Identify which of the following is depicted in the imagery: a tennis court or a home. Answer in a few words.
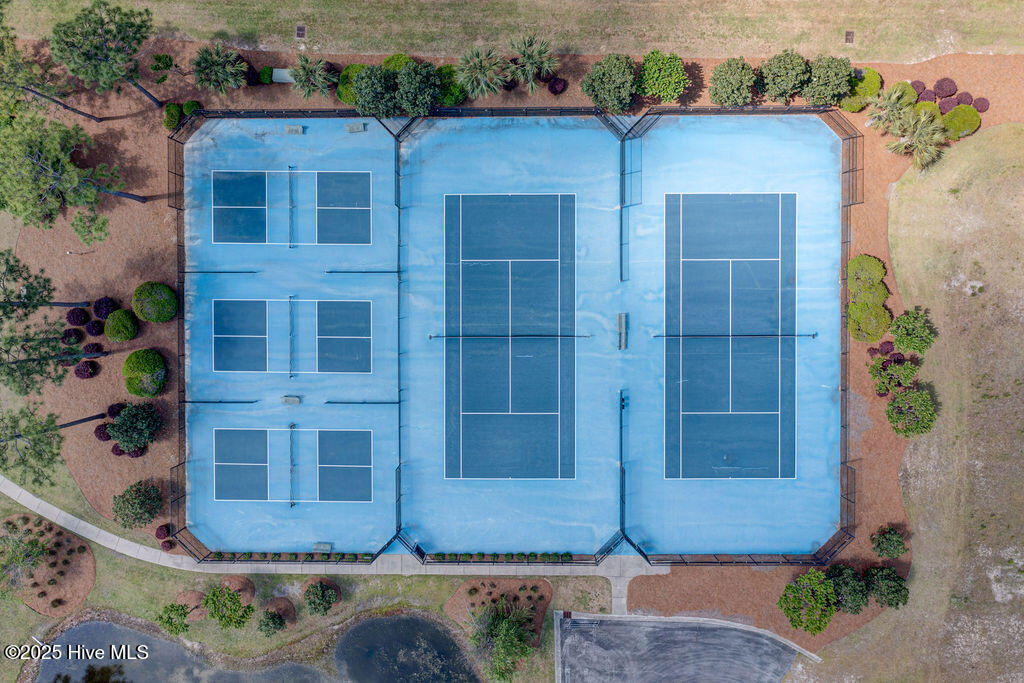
tennis court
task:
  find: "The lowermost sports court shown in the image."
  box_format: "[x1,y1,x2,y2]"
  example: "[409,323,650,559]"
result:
[186,402,400,553]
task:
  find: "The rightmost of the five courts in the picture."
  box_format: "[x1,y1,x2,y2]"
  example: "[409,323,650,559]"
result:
[620,115,842,554]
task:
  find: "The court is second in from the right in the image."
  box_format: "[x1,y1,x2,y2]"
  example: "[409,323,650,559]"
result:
[400,116,621,554]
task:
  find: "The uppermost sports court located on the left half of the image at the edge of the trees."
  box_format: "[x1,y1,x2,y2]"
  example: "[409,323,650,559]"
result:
[184,117,400,272]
